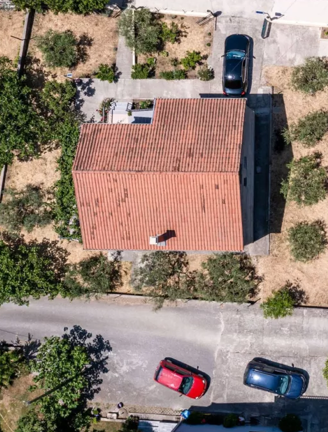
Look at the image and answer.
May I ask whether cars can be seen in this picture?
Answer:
Yes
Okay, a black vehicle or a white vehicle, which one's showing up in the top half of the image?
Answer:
black vehicle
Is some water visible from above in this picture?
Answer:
No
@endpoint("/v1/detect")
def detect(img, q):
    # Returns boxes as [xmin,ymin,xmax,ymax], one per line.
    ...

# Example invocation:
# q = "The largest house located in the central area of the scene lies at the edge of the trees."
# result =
[71,96,254,254]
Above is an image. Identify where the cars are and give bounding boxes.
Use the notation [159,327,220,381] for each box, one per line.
[244,357,308,397]
[153,358,209,396]
[222,34,253,97]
